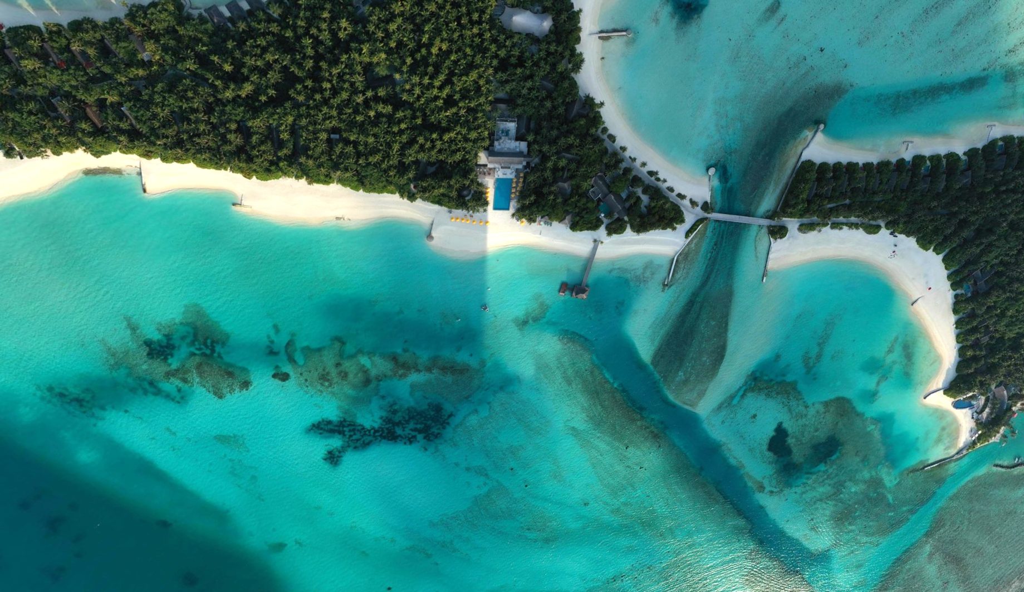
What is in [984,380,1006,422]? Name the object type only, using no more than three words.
building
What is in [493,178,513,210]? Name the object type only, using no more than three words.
swimming pool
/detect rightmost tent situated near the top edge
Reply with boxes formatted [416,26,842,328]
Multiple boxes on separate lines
[499,6,554,40]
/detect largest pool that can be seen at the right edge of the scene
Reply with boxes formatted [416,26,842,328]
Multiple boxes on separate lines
[954,396,979,408]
